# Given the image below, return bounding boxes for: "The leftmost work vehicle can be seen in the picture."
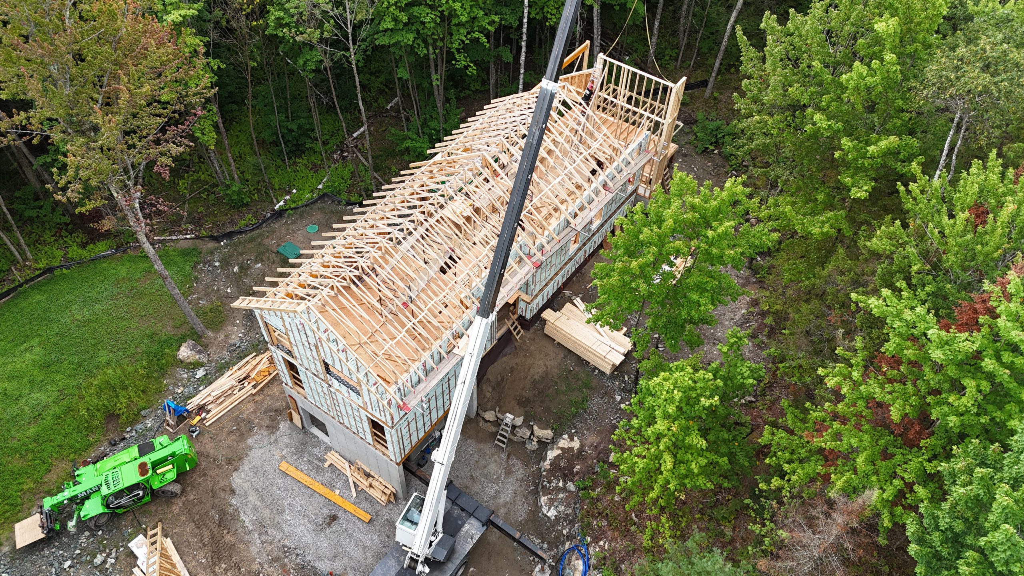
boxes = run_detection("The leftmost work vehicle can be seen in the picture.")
[39,426,202,547]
